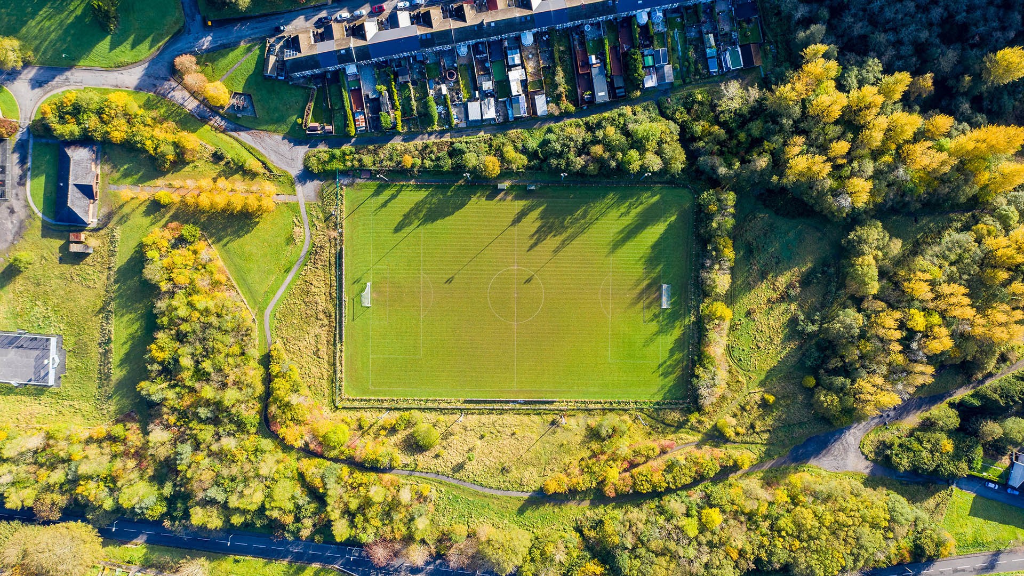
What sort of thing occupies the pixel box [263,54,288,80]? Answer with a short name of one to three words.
building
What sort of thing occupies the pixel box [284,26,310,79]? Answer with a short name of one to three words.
house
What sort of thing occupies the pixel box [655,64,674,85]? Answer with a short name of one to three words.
building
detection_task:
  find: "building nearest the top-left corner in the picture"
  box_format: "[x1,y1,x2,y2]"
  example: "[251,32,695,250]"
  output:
[55,145,104,225]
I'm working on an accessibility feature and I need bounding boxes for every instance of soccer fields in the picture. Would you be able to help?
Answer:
[344,185,694,399]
